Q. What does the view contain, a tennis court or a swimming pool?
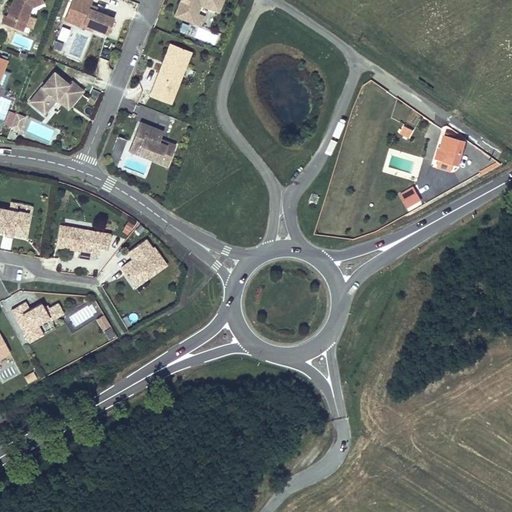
swimming pool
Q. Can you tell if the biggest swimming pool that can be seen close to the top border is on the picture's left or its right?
left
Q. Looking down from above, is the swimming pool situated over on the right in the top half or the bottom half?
top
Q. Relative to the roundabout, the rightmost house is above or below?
above it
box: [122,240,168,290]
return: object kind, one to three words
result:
house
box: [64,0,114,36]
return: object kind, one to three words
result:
house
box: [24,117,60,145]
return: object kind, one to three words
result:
swimming pool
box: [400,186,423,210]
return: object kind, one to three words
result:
building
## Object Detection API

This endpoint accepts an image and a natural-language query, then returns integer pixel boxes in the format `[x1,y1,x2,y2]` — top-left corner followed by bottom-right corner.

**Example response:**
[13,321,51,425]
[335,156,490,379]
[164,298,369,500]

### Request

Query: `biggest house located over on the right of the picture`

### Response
[434,130,466,172]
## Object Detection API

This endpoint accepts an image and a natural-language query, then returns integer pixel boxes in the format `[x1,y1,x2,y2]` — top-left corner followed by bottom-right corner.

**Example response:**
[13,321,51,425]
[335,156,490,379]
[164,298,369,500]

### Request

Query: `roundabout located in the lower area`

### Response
[8,170,512,457]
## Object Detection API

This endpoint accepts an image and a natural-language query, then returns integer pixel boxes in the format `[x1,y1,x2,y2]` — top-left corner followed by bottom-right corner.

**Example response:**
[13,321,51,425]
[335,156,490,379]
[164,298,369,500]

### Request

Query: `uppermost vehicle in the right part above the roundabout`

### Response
[326,119,346,154]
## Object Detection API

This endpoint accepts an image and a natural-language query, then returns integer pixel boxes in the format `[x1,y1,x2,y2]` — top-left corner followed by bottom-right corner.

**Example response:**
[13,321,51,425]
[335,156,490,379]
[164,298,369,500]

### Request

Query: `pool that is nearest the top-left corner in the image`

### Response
[10,32,35,52]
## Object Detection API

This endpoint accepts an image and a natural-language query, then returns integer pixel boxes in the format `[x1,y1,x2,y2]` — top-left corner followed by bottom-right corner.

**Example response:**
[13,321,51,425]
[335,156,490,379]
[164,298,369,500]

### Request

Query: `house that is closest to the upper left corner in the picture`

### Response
[2,0,46,31]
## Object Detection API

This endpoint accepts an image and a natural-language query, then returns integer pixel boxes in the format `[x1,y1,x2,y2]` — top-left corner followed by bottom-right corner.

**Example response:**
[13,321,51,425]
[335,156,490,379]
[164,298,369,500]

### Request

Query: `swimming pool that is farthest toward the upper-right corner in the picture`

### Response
[382,148,423,182]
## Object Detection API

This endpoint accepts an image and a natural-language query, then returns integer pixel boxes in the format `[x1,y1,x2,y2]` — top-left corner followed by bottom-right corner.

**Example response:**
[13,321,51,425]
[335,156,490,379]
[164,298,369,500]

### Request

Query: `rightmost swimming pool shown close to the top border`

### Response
[54,22,95,63]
